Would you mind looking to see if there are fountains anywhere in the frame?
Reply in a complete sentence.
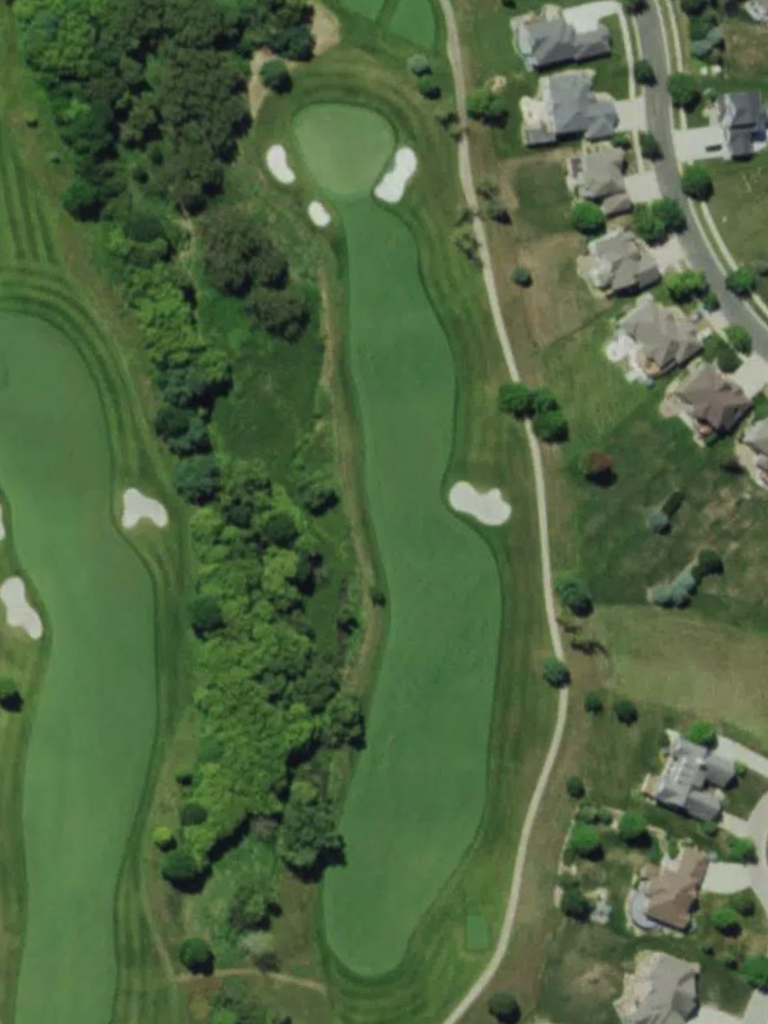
No, the scene contains no fountain.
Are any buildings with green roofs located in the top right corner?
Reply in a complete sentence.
No, no building with a green roof can be made out in the top right corner.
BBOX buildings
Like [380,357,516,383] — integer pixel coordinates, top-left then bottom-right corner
[743,0,768,22]
[511,5,614,71]
[703,92,768,155]
[625,841,709,937]
[520,69,621,146]
[613,950,702,1024]
[641,729,739,825]
[603,286,703,384]
[659,359,755,447]
[566,141,635,214]
[577,224,660,298]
